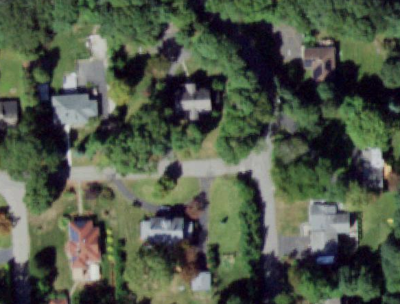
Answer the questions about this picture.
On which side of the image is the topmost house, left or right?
right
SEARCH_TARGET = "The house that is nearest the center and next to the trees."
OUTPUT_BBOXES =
[180,81,211,121]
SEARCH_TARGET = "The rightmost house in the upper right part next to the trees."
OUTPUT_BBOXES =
[305,39,336,86]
